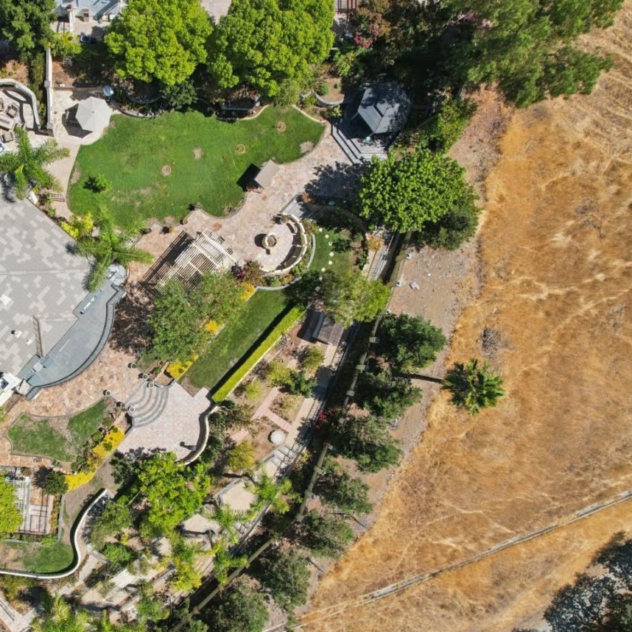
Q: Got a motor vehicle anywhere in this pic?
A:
No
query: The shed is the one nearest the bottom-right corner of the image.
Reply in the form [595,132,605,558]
[307,309,346,348]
